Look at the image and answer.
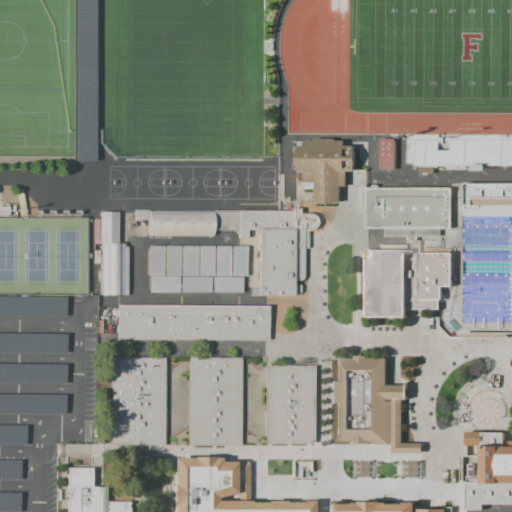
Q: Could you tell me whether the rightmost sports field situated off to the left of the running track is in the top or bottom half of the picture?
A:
top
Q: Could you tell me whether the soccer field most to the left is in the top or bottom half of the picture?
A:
top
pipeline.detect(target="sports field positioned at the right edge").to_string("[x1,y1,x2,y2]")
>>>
[350,0,512,112]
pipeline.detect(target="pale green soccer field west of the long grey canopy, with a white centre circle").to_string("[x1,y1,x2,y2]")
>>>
[0,0,76,156]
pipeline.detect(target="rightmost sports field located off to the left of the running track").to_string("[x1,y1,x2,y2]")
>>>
[103,0,266,158]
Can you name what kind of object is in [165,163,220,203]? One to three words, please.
basketball court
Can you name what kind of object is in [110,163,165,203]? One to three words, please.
basketball court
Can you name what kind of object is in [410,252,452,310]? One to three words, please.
building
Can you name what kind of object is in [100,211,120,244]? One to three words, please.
shed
